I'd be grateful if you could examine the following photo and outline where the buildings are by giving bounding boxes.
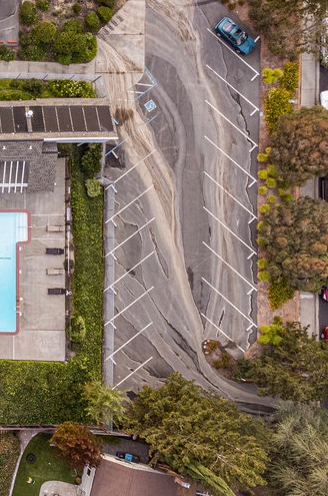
[82,455,192,496]
[0,98,118,193]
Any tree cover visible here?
Yes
